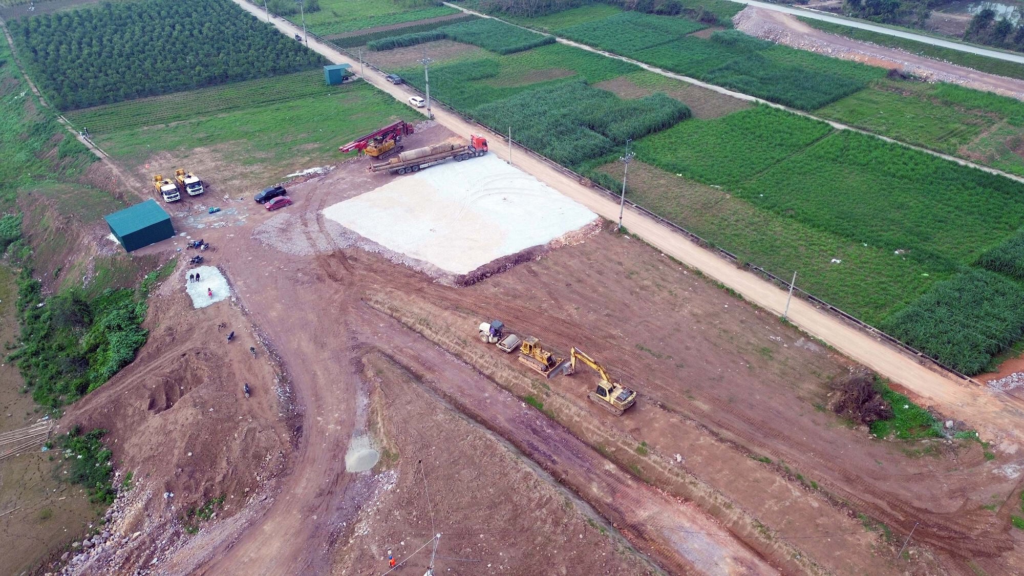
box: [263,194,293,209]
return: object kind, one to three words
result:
car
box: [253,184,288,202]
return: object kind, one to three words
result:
vehicle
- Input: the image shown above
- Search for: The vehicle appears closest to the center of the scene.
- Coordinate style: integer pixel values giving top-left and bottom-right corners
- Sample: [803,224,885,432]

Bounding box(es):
[476,318,520,354]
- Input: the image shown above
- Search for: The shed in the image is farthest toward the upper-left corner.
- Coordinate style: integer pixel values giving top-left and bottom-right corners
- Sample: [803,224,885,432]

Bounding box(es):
[96,194,173,247]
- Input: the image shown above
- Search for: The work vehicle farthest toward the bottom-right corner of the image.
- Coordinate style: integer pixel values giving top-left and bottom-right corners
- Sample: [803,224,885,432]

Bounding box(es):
[560,346,639,419]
